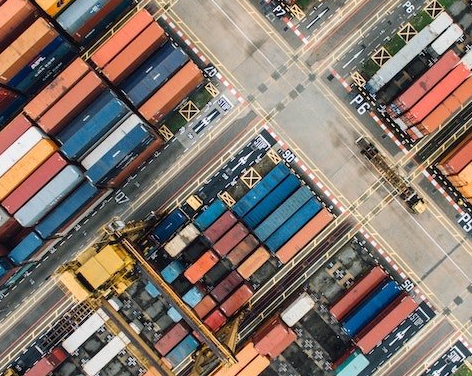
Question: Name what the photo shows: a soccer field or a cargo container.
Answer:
cargo container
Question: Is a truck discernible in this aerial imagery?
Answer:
Yes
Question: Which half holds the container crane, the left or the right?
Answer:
left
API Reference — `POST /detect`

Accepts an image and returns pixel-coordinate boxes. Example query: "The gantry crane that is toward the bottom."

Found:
[49,207,250,376]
